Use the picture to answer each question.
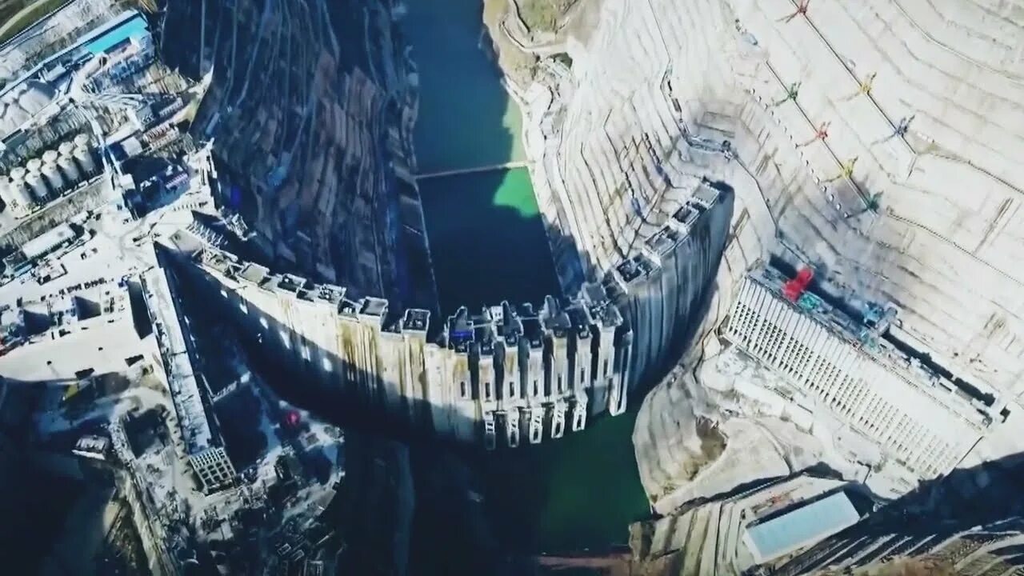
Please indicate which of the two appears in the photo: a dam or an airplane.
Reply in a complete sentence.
This aerial view contains a dam.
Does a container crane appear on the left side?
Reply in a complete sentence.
No, there is no container crane on the left side.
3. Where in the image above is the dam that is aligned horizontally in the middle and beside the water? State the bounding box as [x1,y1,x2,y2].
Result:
[166,178,734,454]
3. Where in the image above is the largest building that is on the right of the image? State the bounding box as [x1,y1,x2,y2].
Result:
[740,489,861,565]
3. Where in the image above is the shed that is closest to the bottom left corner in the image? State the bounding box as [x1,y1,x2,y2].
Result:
[71,436,107,462]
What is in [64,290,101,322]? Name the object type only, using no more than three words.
shed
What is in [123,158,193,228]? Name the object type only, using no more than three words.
building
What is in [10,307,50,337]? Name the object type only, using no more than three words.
shed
